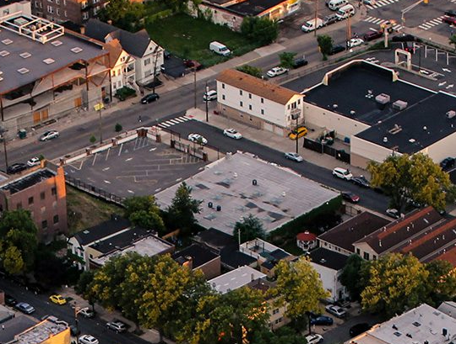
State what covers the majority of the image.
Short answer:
buildings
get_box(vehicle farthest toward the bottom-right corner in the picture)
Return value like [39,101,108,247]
[347,322,372,338]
